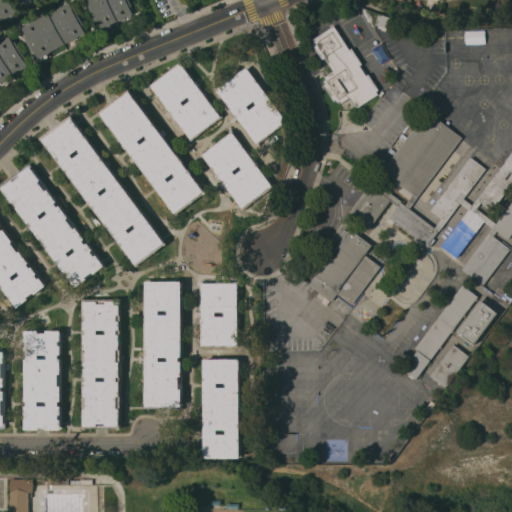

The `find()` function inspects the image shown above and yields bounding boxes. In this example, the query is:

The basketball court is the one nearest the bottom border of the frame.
[325,440,348,462]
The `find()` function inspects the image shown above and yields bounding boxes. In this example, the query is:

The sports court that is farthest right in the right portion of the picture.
[446,29,512,144]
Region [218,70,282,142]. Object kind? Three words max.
building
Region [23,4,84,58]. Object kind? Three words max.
house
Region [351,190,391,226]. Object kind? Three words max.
building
